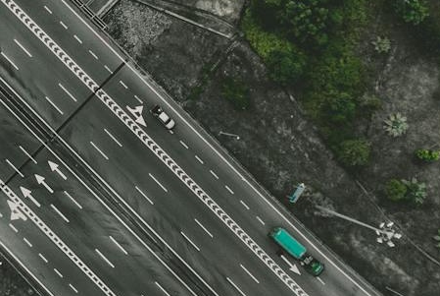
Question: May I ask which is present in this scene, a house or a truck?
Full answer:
Visible in the photo is a truck.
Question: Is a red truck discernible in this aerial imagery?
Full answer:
No, there isn't any red truck down there.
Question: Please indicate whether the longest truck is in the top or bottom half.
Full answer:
The longest truck is in the bottom half of the image.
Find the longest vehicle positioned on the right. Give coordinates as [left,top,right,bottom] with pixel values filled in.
[268,225,325,280]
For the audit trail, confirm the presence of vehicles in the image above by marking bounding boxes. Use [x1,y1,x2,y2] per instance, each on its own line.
[150,105,177,130]
[268,225,325,280]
